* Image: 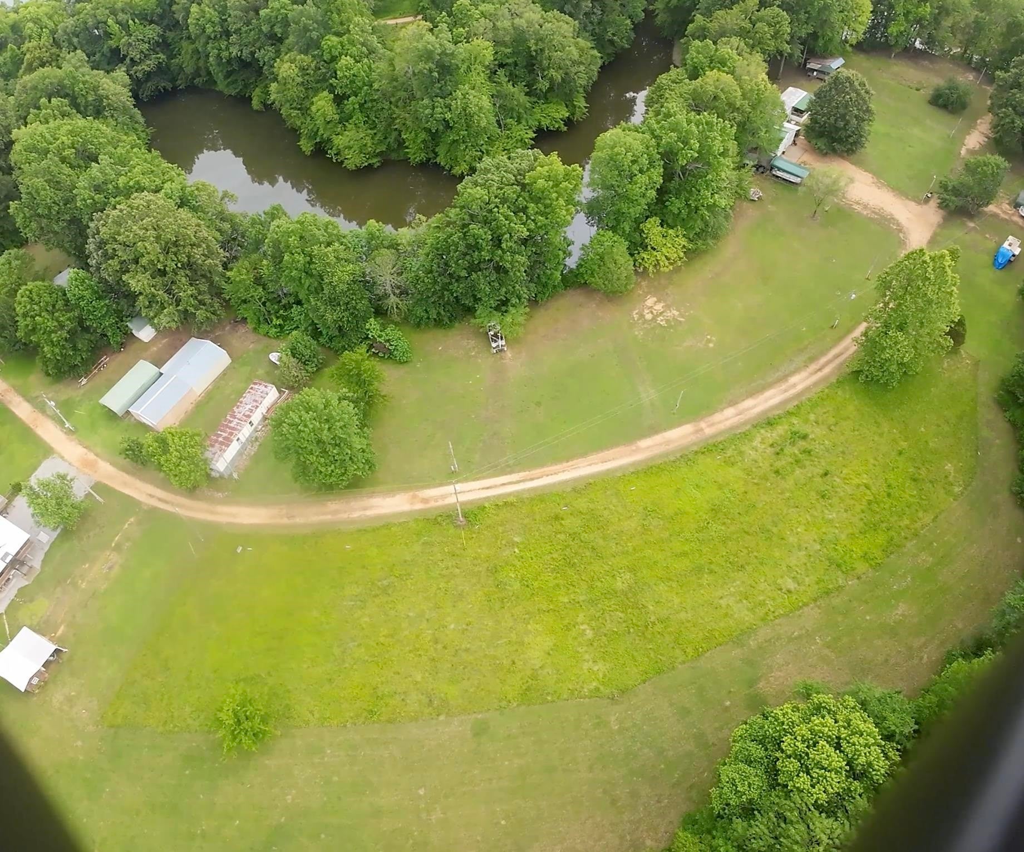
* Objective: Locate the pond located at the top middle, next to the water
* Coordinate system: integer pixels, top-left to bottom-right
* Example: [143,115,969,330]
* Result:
[133,0,677,278]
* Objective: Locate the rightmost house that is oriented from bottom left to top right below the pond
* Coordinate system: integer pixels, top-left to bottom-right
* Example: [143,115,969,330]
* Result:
[199,379,278,475]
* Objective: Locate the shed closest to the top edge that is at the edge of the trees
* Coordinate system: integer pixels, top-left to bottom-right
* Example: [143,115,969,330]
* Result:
[802,51,847,84]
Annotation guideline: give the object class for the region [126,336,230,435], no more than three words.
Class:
building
